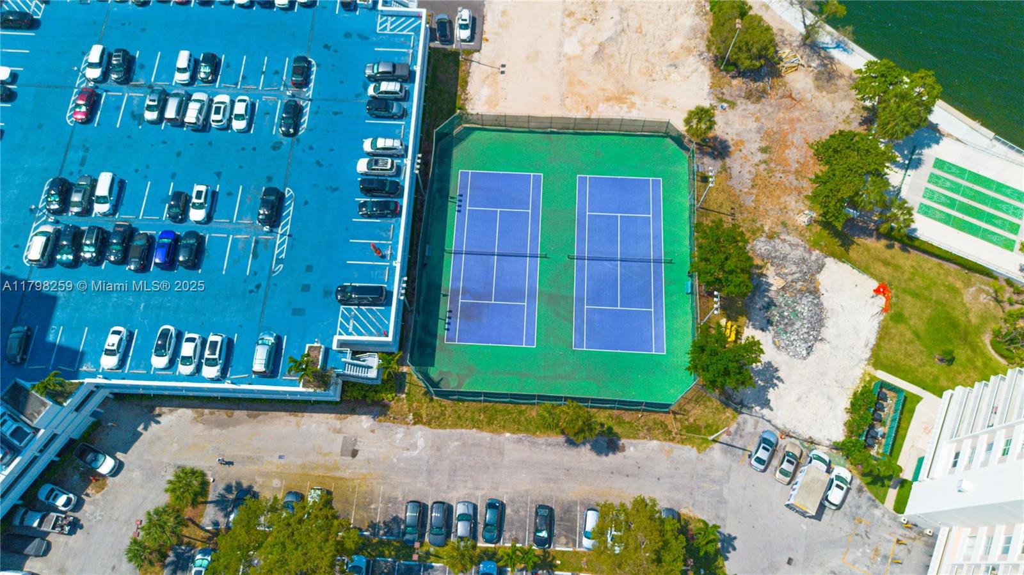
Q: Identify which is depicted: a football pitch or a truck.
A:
truck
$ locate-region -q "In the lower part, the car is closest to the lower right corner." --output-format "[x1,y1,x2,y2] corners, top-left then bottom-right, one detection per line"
[823,465,853,514]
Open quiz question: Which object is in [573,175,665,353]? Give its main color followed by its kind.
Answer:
blue tennis court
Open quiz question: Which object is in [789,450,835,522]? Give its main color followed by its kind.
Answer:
white truck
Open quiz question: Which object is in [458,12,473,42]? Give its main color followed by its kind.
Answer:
white car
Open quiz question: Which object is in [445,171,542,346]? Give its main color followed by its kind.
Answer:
blue tennis court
